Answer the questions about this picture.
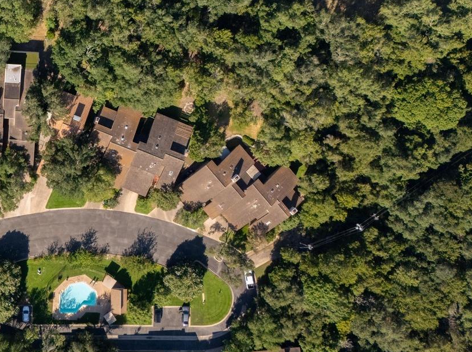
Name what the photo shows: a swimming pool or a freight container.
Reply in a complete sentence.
Looking from above, you can make out a swimming pool.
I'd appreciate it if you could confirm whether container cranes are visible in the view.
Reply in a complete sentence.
No, I can see no container crane in this picture.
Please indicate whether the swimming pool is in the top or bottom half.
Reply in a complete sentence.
The swimming pool is in the bottom half of the image.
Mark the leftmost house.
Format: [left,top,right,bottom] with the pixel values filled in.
[0,50,39,167]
